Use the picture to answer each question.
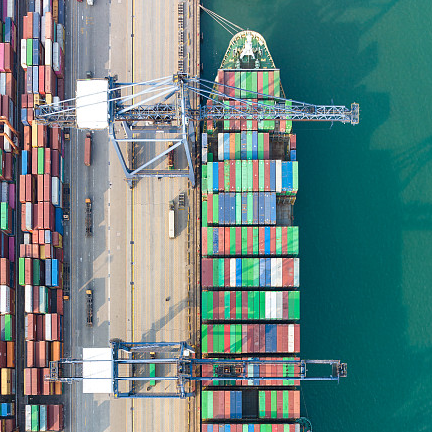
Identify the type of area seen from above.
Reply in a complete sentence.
The area seen from above is a port.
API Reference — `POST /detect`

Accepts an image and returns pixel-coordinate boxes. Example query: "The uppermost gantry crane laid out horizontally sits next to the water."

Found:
[34,65,358,198]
